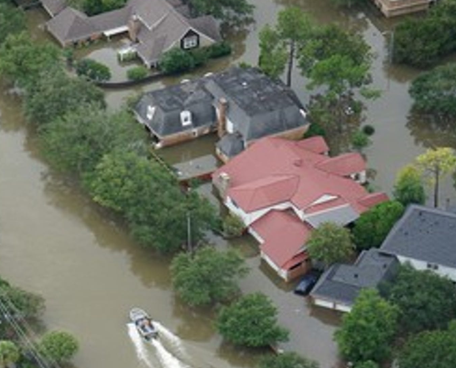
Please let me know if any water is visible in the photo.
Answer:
Yes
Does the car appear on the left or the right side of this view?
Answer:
right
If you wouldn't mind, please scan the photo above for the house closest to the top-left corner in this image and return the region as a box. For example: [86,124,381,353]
[42,0,224,74]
